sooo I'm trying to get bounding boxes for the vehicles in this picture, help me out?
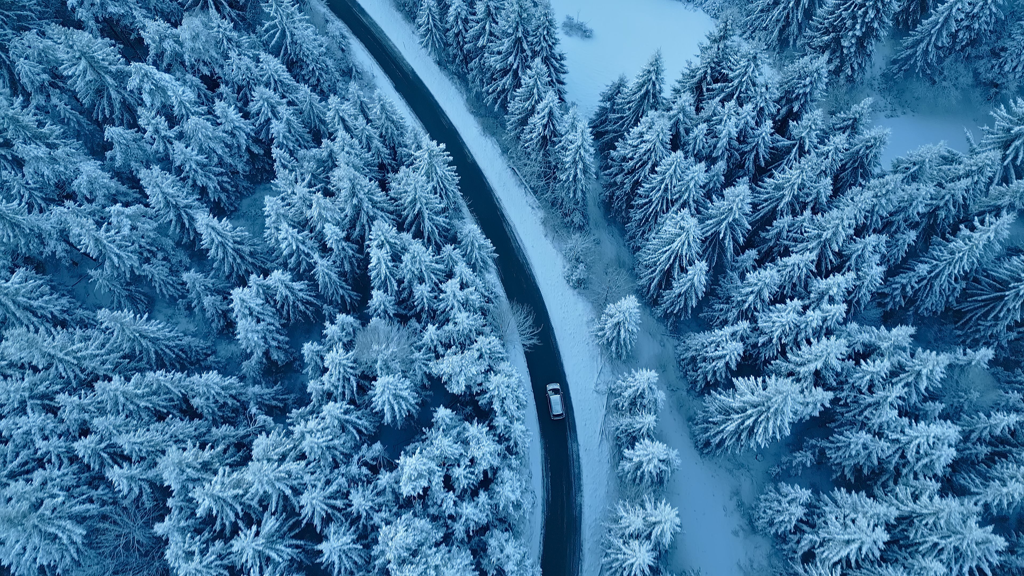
[546,382,566,420]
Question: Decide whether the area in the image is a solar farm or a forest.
forest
